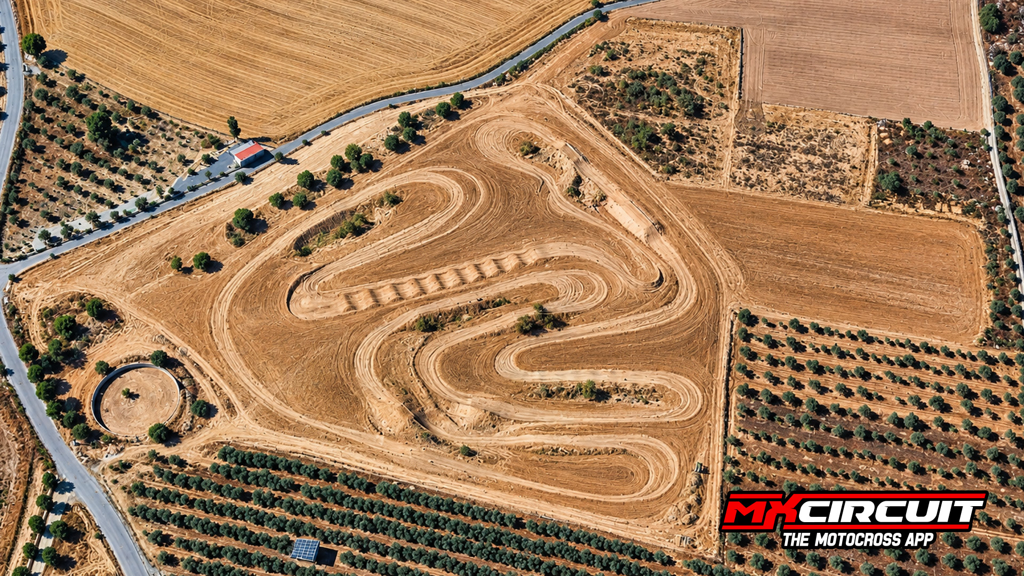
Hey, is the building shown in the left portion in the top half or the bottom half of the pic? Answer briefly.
top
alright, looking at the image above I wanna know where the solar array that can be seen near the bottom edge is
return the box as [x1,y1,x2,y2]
[292,538,319,564]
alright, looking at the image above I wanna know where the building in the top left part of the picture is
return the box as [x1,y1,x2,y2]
[230,138,266,168]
